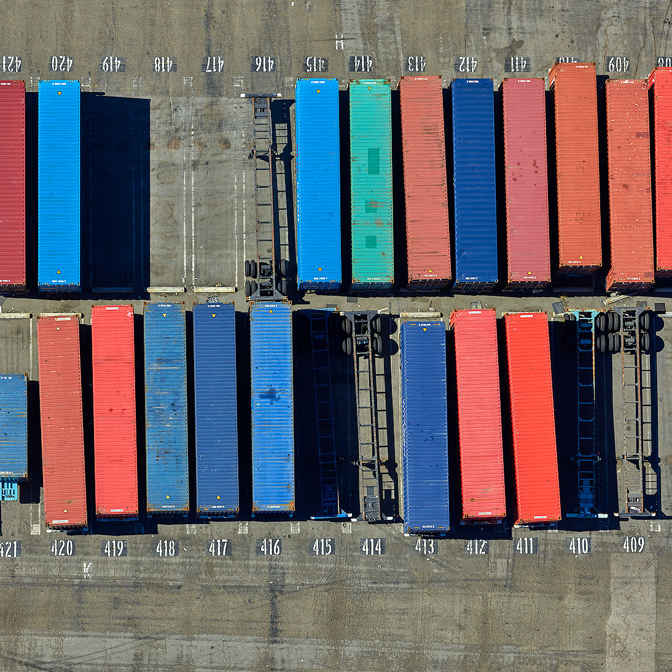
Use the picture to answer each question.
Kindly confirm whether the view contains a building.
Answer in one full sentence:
No, the scene contains no building.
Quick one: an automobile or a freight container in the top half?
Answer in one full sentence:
Visible in the top half is a freight container.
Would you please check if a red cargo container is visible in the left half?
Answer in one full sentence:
Yes, a red cargo container shows up in the left half.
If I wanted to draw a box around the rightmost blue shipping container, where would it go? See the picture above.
[448,78,498,290]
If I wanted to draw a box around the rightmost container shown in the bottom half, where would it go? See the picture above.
[501,312,560,526]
